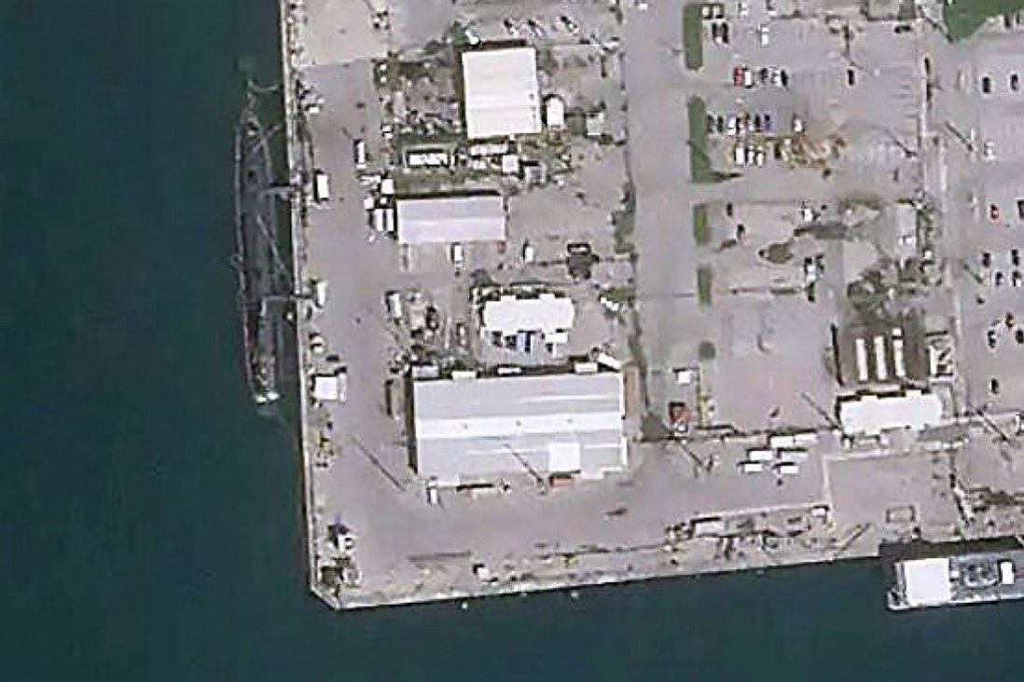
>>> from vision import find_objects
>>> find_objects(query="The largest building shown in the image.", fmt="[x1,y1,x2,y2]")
[413,372,627,476]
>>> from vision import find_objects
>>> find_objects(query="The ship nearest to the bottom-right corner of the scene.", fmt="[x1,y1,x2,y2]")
[888,550,1024,611]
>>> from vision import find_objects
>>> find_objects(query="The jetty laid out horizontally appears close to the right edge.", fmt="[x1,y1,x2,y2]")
[880,535,1024,578]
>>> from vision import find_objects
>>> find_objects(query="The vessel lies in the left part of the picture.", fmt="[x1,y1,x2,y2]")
[237,90,281,403]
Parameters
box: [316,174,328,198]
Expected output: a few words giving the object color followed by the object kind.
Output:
white vehicle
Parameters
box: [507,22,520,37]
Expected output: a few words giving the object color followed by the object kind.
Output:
white vehicle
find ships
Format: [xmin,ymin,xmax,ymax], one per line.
[237,90,281,403]
[888,550,1024,611]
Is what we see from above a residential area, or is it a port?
port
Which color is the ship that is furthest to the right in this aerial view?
white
